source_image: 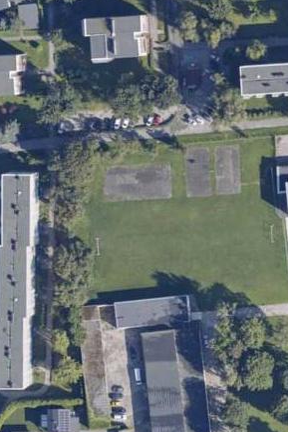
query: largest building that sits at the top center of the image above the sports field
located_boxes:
[83,15,153,67]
